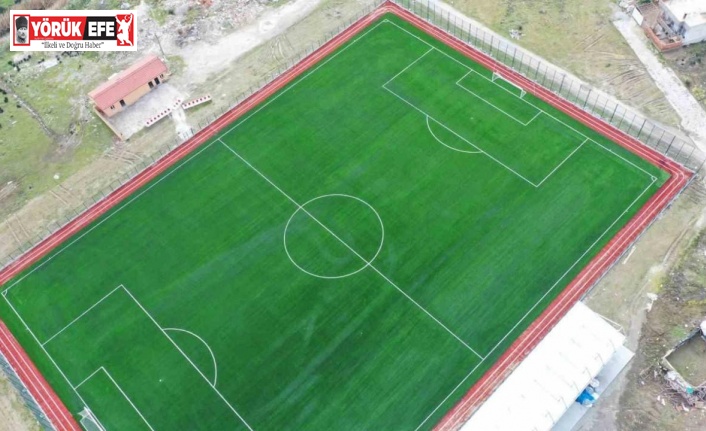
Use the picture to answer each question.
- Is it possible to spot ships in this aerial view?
No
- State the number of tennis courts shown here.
0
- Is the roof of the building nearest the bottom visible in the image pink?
Yes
